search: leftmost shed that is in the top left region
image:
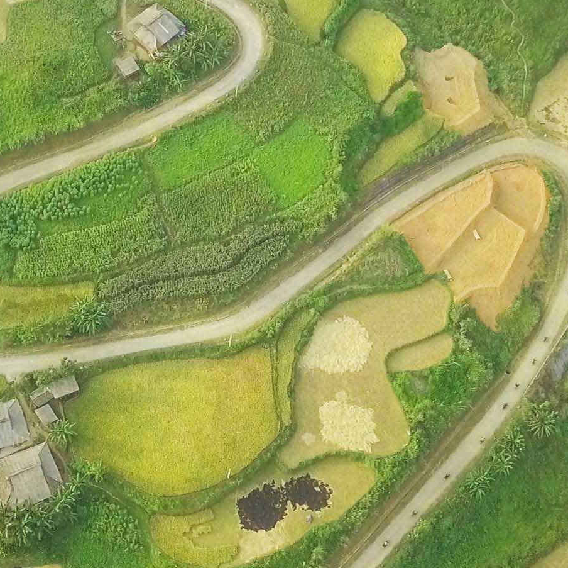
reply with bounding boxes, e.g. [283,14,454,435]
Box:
[114,55,139,79]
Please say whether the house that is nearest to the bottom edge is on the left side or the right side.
left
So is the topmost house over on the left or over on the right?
left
